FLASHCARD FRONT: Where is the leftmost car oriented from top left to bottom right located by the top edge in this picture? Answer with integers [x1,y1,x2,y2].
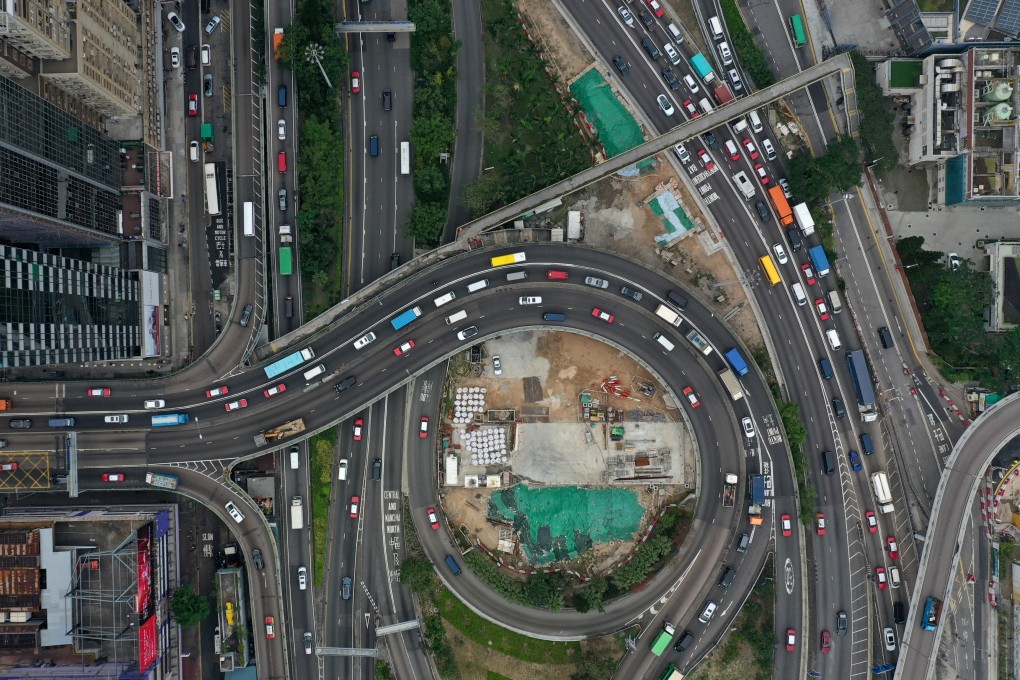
[167,11,186,33]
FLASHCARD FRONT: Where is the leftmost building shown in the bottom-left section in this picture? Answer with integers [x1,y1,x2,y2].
[0,506,184,680]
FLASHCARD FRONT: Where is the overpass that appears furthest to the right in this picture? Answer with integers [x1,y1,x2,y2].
[890,391,1020,680]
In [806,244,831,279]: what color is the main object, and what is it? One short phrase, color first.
blue truck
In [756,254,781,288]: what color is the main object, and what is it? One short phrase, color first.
yellow bus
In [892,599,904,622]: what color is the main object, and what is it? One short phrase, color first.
black vehicle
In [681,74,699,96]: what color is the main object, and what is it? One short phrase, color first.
white car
